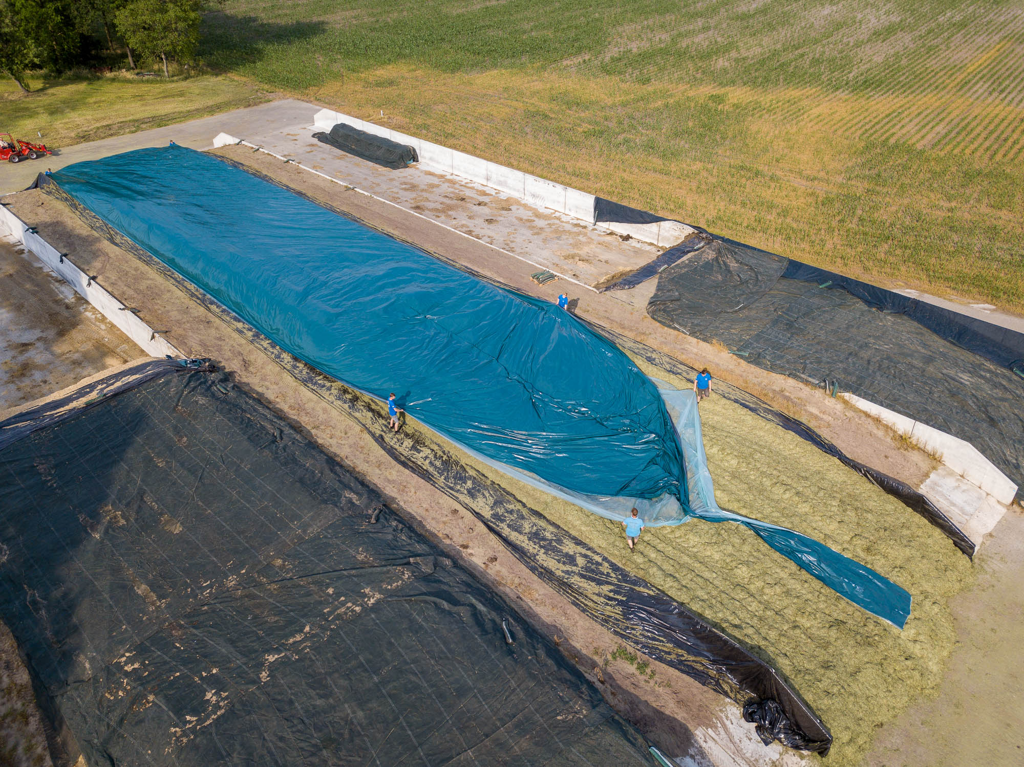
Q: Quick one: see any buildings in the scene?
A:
No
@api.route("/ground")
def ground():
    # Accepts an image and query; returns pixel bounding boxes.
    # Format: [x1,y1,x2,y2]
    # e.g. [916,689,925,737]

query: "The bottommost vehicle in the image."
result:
[0,131,53,162]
